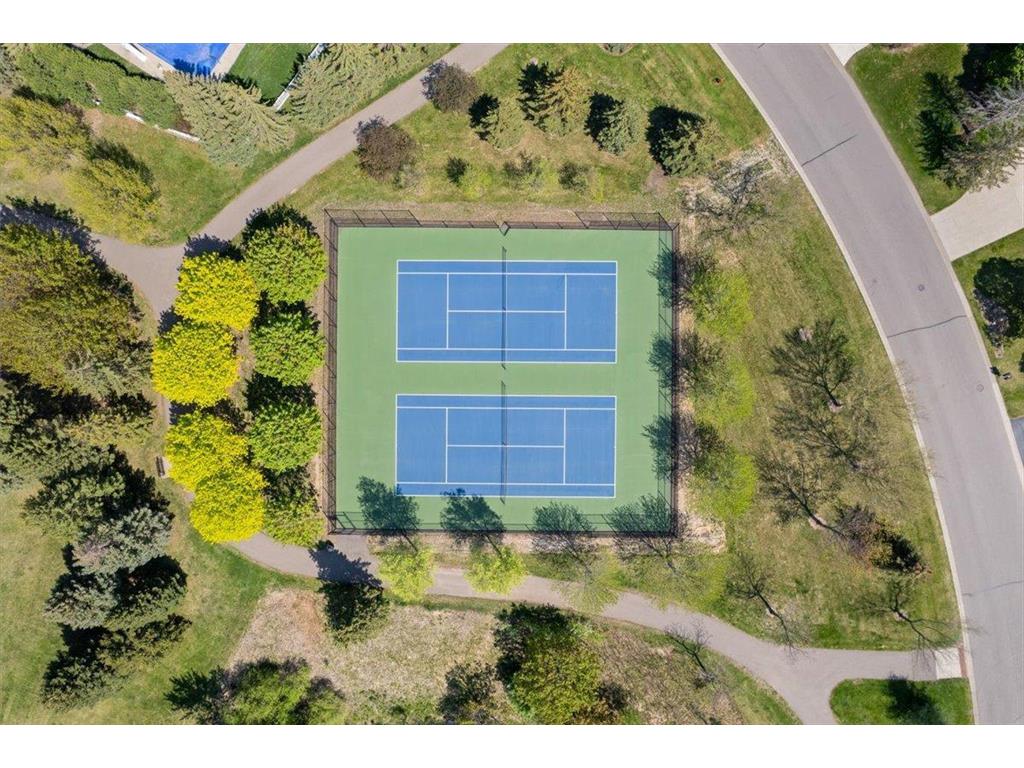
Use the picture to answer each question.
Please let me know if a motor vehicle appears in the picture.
No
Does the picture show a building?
No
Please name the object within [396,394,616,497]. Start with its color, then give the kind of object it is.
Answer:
blue tennis court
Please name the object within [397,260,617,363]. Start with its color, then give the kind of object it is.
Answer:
blue tennis court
